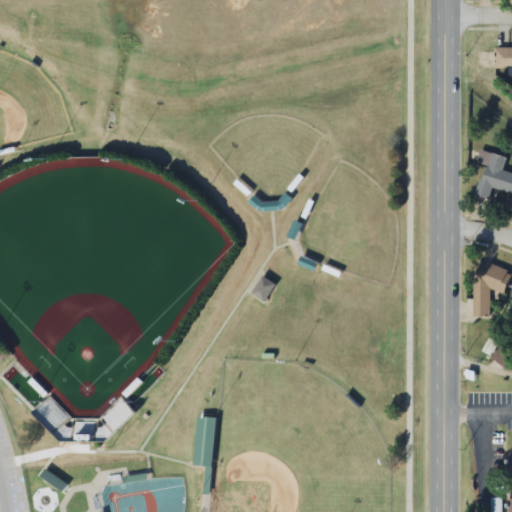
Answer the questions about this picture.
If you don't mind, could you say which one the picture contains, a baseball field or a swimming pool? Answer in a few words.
baseball field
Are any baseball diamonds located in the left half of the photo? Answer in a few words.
Yes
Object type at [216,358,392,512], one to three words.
baseball field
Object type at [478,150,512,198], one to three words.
house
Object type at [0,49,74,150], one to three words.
baseball field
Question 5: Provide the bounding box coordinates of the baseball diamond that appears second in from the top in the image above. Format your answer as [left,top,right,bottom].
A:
[210,113,325,201]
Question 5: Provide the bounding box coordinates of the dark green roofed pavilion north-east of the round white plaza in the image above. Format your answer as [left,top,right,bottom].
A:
[39,468,70,492]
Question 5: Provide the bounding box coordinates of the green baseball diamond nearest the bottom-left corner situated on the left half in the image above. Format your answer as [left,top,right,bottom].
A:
[0,158,234,417]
